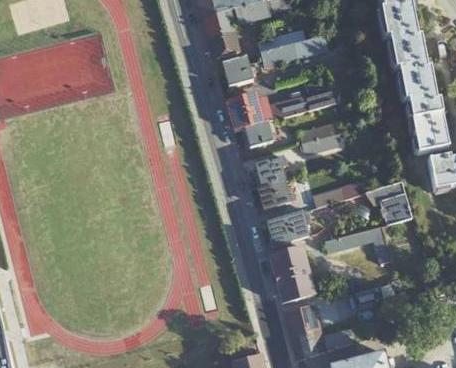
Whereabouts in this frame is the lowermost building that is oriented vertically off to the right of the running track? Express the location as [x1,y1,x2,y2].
[298,304,322,350]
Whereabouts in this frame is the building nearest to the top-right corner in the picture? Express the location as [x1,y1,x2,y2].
[380,0,451,156]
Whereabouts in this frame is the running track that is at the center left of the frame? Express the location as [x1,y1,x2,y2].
[0,0,202,361]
